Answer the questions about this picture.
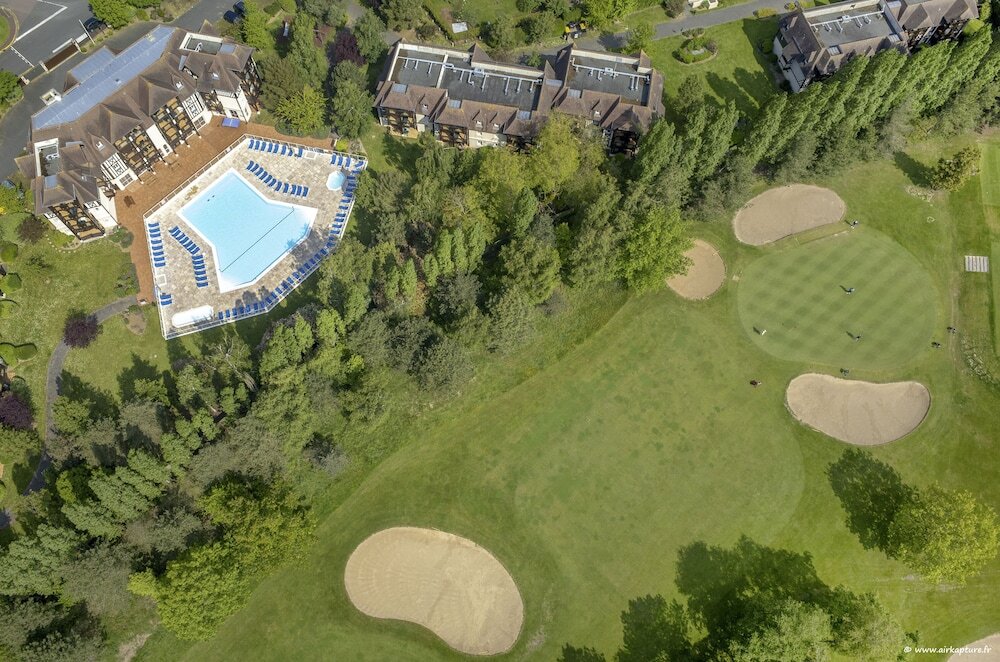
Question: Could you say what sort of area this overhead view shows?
golf course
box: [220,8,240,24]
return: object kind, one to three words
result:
car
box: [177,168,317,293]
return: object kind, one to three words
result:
swimming pool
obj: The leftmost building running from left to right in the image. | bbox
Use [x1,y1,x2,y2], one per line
[374,39,665,157]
